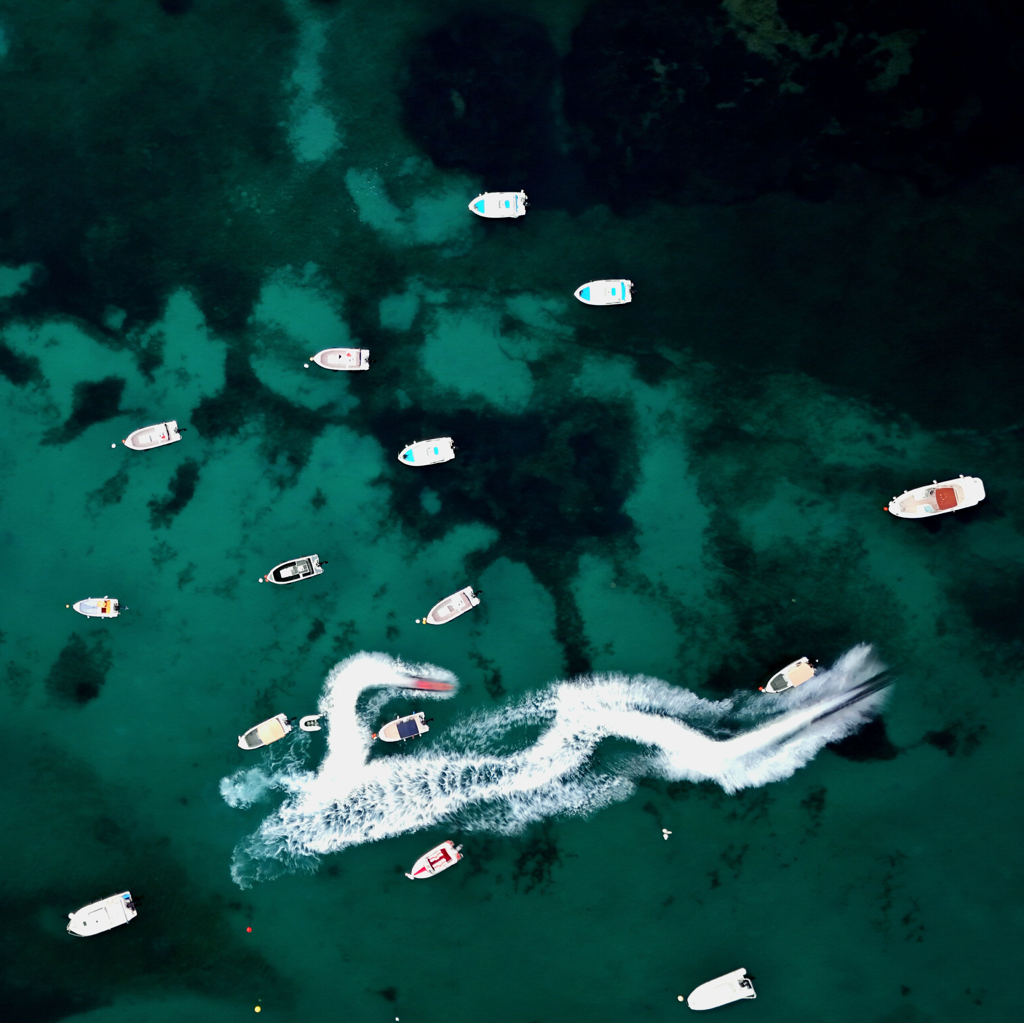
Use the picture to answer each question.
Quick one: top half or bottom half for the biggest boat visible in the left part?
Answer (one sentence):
You can find the biggest boat visible in the left part in the bottom half.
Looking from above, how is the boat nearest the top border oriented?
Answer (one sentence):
In this picture, the boat nearest the top border lies from left to right.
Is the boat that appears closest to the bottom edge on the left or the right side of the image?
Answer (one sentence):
The boat that appears closest to the bottom edge sits on the right side.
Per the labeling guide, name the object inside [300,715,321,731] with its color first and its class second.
white boat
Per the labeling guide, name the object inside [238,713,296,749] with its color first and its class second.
white boat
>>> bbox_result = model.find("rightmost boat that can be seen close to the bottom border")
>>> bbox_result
[686,968,757,1010]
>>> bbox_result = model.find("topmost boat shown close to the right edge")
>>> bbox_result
[890,478,985,516]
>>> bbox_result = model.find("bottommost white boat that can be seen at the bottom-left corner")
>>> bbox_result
[67,889,141,937]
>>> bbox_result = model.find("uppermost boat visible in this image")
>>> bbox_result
[468,192,530,218]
